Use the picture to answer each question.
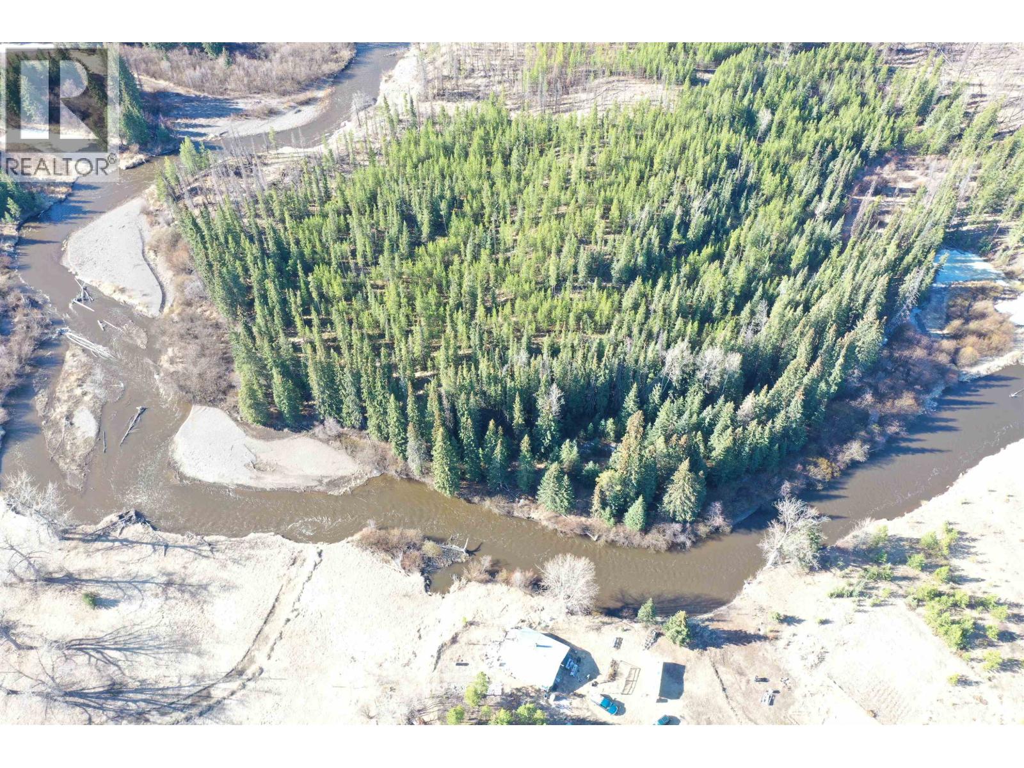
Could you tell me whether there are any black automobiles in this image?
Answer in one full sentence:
No, the photo shows no black automobile.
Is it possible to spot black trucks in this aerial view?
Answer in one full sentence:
No, the frame has no black truck in it.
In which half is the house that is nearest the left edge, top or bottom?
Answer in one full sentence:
The house that is nearest the left edge is in the bottom half of the image.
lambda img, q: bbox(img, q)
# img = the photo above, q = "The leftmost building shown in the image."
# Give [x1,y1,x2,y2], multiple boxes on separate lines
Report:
[503,630,569,691]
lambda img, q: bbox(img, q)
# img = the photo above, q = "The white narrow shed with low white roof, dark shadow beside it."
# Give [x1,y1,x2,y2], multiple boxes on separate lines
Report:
[637,660,663,704]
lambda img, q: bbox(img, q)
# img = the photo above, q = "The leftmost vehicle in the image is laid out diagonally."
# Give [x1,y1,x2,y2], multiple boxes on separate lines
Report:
[588,691,621,719]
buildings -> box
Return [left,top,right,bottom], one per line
[637,660,663,704]
[503,630,569,691]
